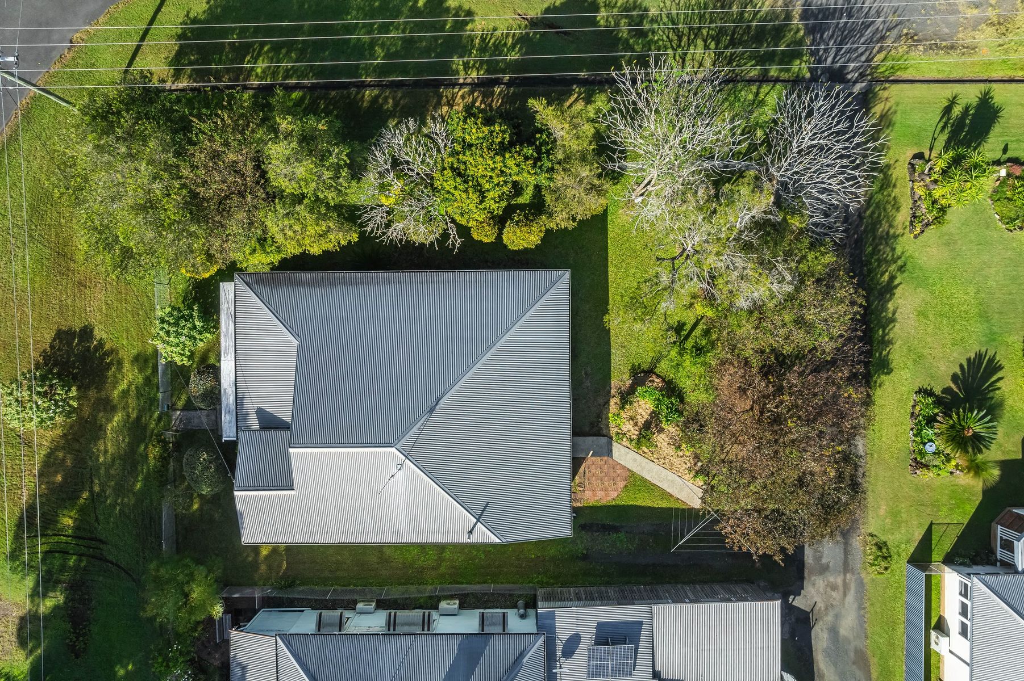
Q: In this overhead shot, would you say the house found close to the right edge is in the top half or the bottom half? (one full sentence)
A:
The house found close to the right edge sits in the bottom half of the picture.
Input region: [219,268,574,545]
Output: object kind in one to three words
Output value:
house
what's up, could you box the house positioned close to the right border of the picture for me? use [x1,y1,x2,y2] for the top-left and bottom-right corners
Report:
[937,508,1024,681]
